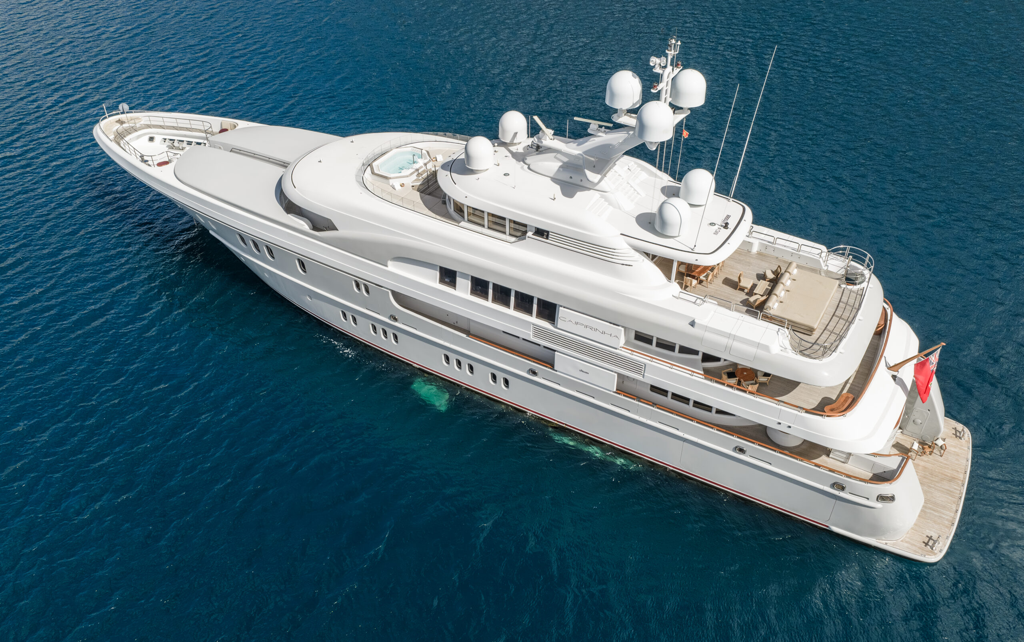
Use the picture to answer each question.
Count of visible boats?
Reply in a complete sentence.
The picture shows just 1 boat.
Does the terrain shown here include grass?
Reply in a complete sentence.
No, there is no grass in the image.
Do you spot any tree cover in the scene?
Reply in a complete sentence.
No, no tree cover is visible.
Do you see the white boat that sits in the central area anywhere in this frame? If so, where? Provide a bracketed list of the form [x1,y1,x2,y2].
[97,28,970,568]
